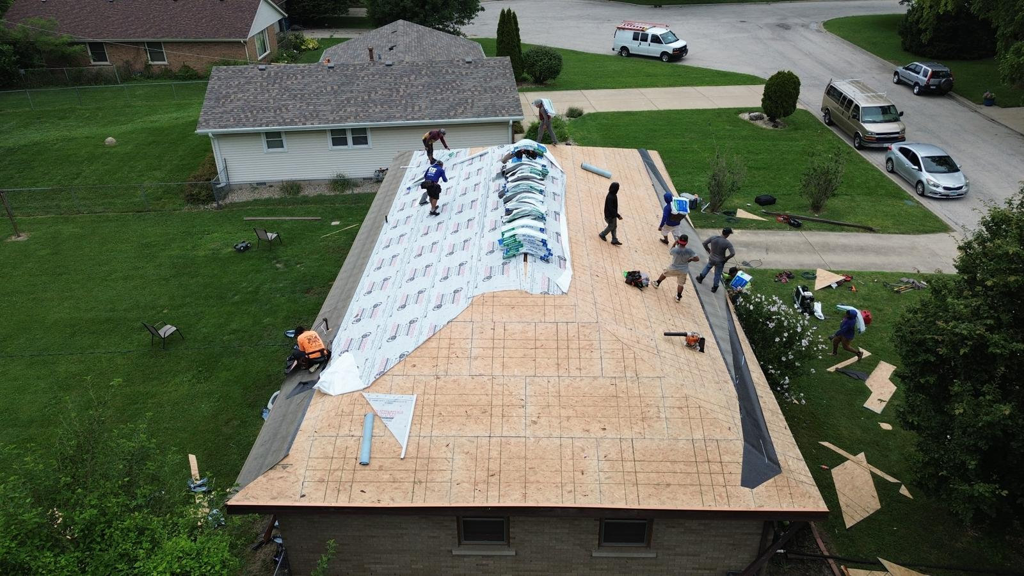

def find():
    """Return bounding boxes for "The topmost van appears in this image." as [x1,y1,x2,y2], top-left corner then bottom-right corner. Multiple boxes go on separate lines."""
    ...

[608,23,695,62]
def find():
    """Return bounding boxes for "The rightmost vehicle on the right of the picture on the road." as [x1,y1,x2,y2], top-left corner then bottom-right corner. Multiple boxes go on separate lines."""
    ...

[883,144,973,200]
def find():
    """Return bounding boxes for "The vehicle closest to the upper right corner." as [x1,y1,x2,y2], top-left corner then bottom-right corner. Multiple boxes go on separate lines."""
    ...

[890,59,960,95]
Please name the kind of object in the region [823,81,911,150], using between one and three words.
van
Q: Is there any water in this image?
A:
No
